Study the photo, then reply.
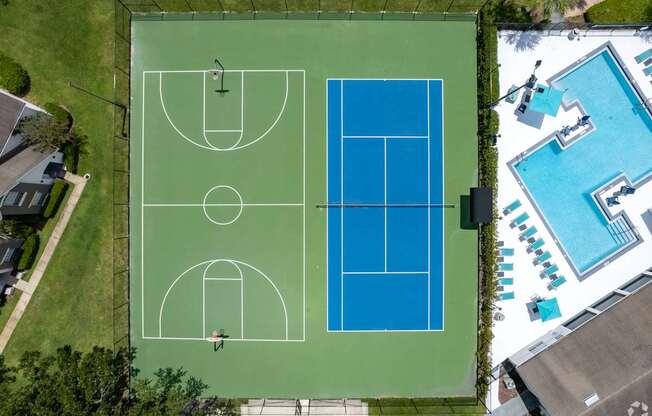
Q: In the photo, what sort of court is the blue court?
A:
tennis court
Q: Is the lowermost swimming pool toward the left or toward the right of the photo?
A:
right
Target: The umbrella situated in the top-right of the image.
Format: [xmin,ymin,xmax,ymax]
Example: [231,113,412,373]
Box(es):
[528,83,562,117]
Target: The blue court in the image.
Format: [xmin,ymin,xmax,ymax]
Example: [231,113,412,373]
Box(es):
[327,78,443,331]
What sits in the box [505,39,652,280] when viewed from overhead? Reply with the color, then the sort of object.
blue swimming pool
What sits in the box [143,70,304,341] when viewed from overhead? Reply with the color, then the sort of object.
green basketball court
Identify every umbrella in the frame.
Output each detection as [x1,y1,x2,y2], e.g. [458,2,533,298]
[533,297,562,322]
[528,83,562,117]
